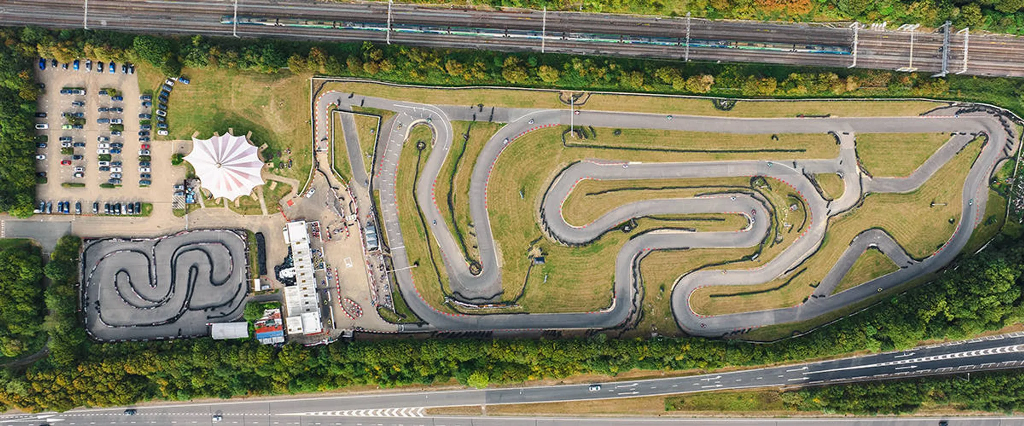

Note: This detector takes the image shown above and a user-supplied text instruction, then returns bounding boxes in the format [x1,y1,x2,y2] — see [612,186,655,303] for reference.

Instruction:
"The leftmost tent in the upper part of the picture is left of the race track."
[183,132,264,201]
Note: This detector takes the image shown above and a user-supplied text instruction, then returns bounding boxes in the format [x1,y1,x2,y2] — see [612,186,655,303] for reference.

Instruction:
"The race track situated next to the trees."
[380,102,1006,335]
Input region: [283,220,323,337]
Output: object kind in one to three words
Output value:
building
